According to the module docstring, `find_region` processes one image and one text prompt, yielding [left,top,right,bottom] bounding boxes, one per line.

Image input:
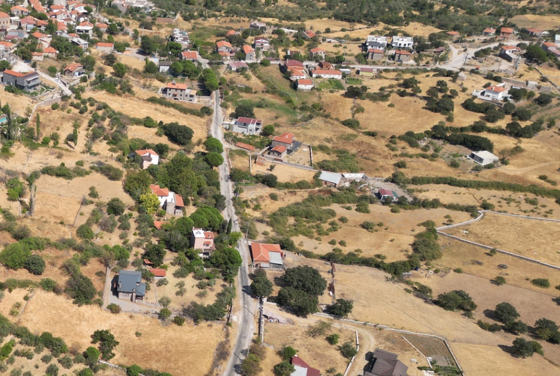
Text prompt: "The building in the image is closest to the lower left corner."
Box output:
[116,269,156,301]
